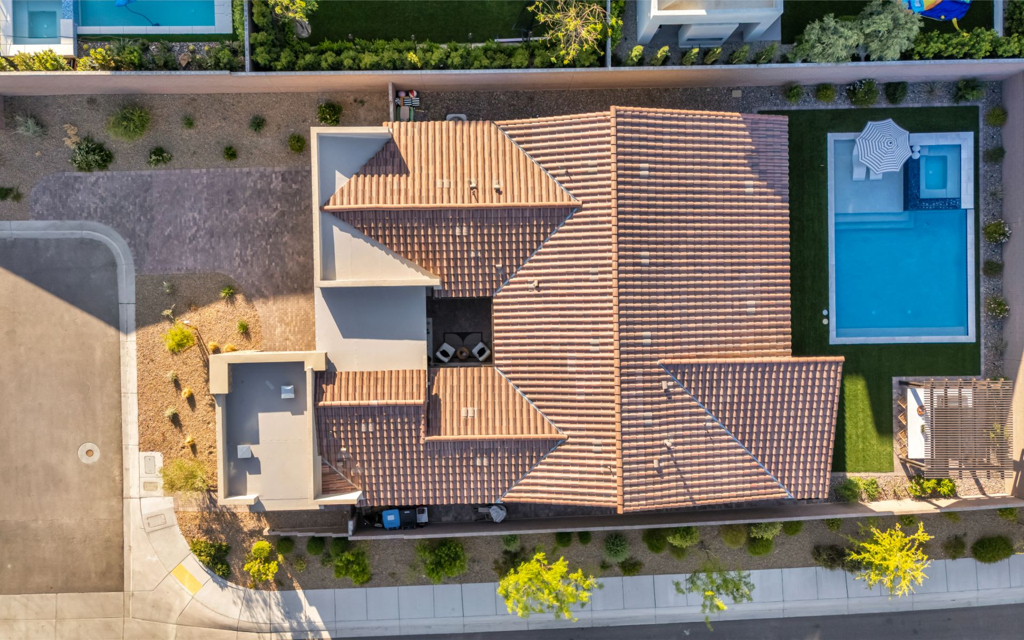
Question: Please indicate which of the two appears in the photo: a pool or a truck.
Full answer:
I can see a pool in this picture.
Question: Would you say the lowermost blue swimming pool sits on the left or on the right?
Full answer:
You can find the lowermost blue swimming pool on the right side of the picture.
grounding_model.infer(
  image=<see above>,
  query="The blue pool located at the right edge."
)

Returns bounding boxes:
[828,132,977,344]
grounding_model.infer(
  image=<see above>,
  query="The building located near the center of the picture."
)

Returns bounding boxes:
[210,103,848,517]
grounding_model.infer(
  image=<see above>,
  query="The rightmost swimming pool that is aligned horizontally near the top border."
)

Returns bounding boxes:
[78,0,233,33]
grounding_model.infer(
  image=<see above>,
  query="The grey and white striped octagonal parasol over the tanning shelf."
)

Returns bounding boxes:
[857,118,912,175]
